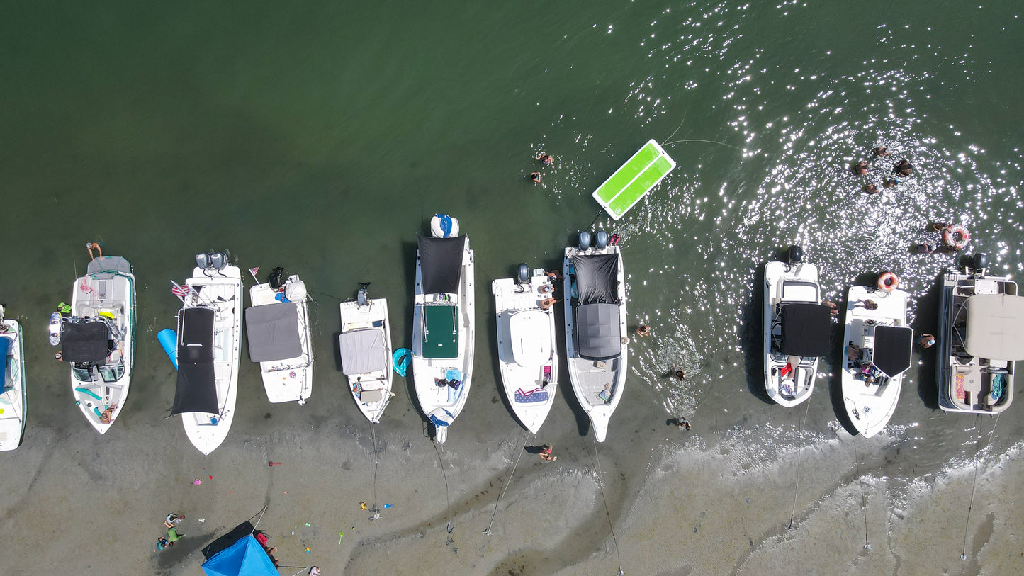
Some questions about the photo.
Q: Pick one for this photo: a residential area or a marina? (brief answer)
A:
marina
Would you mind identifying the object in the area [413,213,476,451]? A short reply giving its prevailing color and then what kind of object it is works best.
white boat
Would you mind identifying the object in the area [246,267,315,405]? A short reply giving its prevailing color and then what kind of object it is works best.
white boat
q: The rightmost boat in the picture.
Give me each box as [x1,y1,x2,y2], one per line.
[937,253,1024,418]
